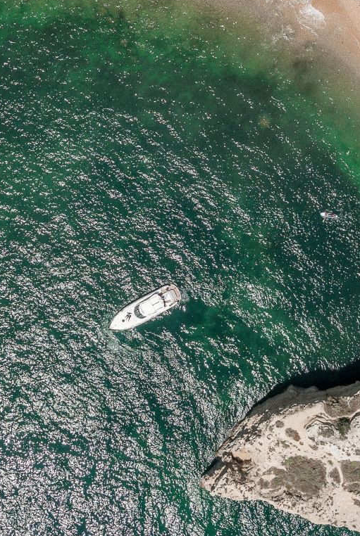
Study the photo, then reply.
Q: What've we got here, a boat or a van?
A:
boat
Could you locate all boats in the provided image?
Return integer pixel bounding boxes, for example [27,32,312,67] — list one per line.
[319,211,338,222]
[109,284,182,329]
